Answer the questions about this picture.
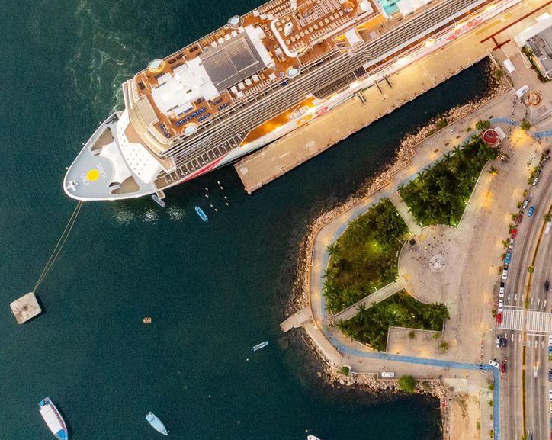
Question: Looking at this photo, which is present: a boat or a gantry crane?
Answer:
boat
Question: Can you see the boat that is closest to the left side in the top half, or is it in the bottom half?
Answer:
bottom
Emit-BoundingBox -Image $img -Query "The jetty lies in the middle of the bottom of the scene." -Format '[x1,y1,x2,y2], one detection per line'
[280,308,312,333]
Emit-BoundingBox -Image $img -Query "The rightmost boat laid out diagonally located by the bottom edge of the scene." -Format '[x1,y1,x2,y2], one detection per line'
[145,411,167,435]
